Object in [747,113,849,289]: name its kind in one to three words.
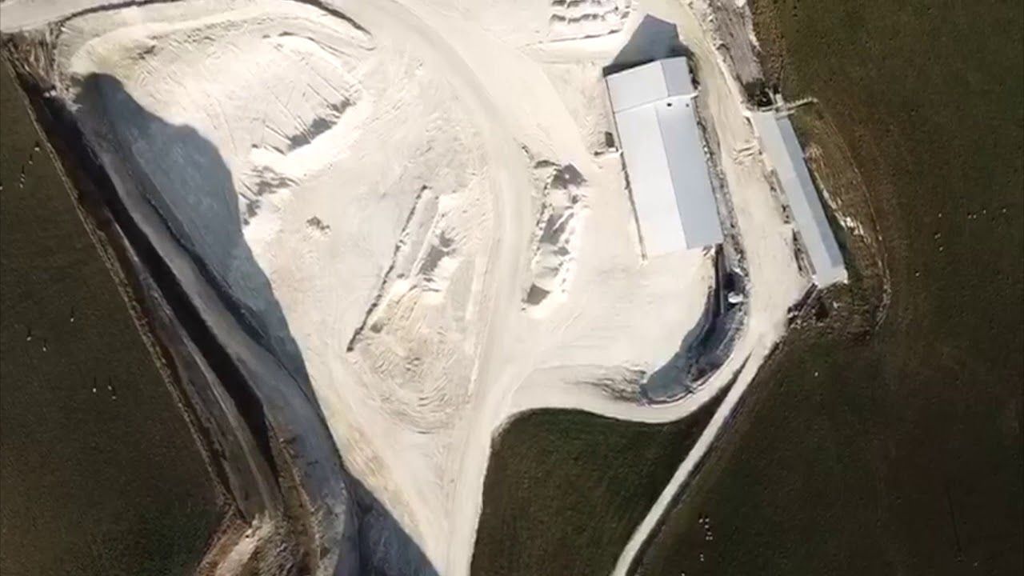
shed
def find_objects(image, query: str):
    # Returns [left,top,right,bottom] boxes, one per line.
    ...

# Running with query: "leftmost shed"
[605,56,723,259]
